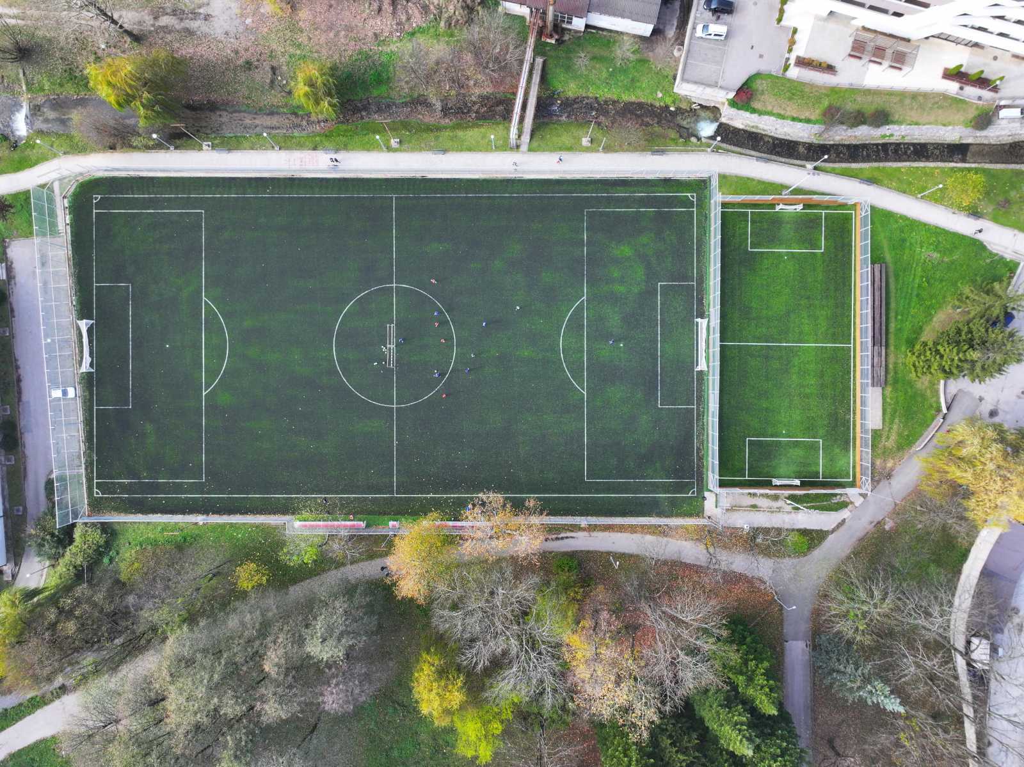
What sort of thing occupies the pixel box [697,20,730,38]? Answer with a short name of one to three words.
car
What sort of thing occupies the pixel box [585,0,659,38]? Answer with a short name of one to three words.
shed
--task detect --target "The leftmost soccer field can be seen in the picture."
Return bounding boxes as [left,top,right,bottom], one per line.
[69,178,710,527]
